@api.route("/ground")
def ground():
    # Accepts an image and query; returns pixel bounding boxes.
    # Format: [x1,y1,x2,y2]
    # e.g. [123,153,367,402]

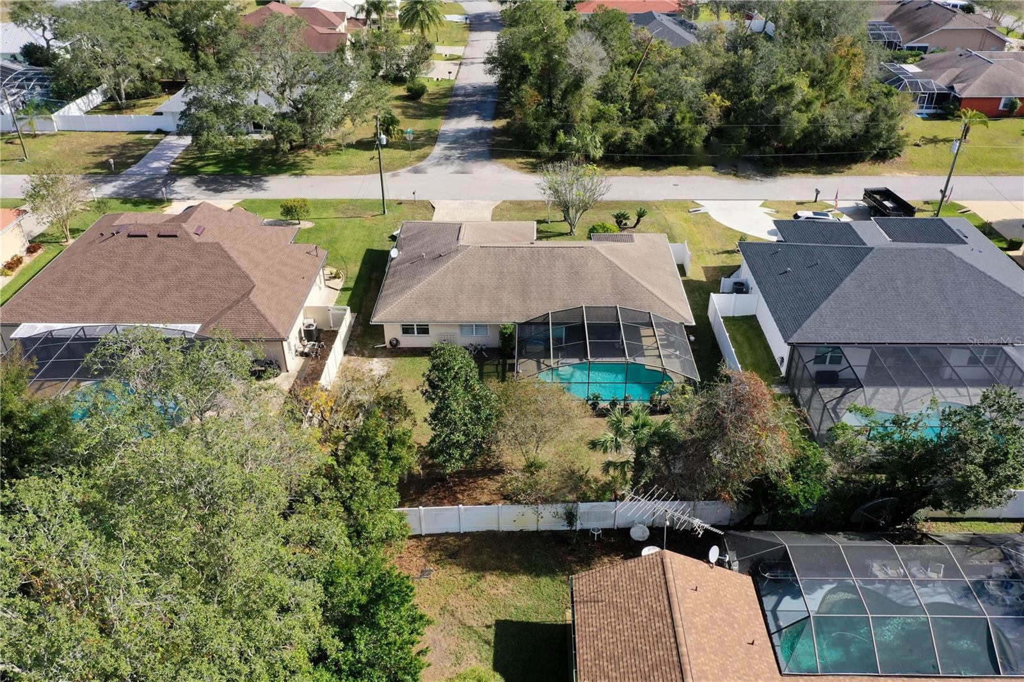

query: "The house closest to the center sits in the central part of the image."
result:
[363,220,695,357]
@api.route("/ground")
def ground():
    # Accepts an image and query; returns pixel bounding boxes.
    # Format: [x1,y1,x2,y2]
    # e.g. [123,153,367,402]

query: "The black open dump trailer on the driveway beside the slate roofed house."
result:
[862,187,918,222]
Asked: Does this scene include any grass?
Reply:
Yes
